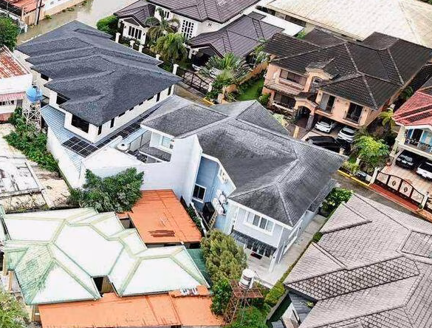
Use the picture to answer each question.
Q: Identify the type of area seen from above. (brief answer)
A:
residential area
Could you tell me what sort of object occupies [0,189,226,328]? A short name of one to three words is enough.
house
